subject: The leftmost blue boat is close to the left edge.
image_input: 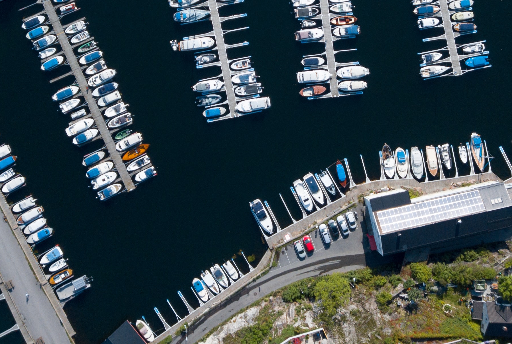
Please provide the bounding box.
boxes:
[0,156,18,171]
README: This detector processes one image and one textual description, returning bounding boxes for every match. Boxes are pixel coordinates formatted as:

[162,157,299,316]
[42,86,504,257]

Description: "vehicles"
[328,219,340,237]
[302,234,314,253]
[345,211,357,229]
[320,224,331,243]
[293,240,307,259]
[338,215,349,234]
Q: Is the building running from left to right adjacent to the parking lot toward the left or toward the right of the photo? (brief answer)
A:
right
